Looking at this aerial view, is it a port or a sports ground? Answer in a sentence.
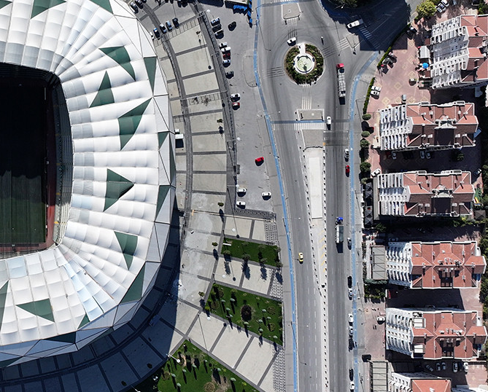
It's a sports ground.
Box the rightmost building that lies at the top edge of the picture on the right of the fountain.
[430,15,488,85]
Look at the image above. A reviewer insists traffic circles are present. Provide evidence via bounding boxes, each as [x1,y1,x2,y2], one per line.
[284,43,325,84]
